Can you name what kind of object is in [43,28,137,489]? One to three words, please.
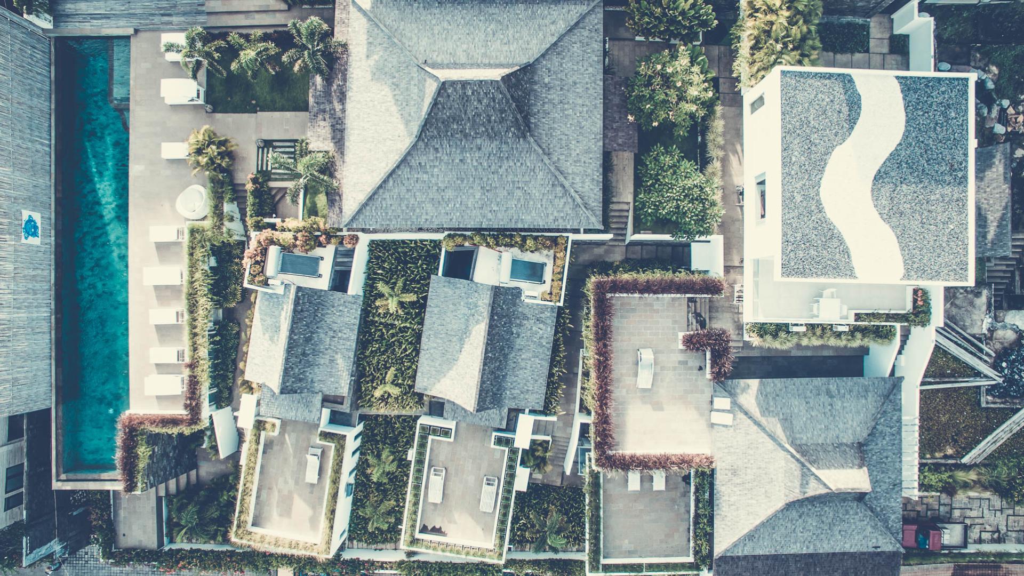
swimming pool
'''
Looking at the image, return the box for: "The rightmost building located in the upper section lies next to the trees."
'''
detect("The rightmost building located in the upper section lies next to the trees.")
[742,68,978,326]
